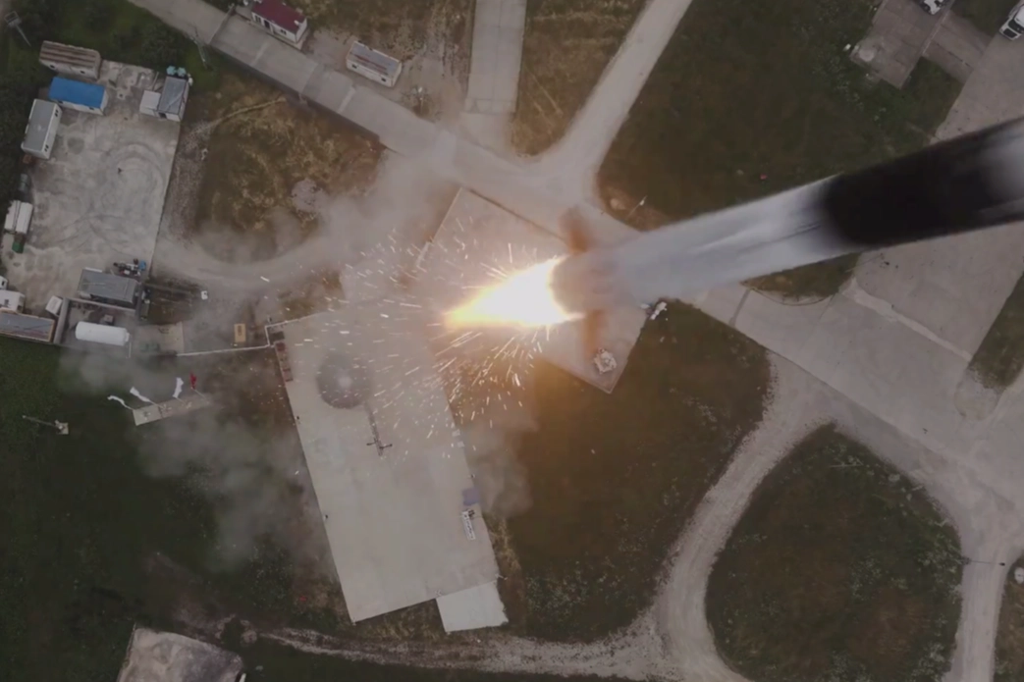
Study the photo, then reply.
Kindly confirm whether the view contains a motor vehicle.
Yes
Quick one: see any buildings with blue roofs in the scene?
Yes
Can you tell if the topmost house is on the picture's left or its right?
left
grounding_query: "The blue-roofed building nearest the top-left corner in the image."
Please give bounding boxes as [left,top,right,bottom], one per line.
[48,76,111,116]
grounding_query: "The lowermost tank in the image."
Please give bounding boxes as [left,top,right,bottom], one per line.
[75,322,139,360]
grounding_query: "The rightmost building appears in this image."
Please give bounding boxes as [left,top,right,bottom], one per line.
[346,38,401,89]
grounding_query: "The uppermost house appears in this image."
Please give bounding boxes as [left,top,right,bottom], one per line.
[250,0,313,58]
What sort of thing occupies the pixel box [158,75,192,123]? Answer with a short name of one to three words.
shed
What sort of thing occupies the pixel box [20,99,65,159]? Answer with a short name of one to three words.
building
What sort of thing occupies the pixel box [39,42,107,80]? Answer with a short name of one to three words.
building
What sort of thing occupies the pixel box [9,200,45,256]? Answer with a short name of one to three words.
truck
